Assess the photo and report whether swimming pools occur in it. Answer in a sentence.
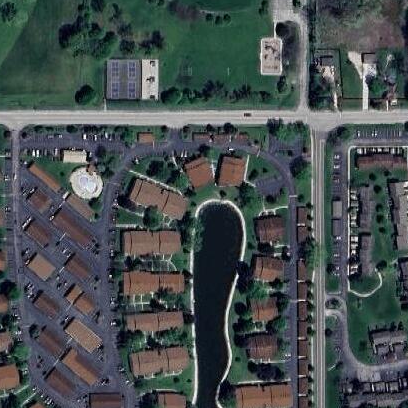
Yes, the picture does show a swimming pool.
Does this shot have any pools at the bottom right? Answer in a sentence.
No, there's no pool to be seen at the bottom right.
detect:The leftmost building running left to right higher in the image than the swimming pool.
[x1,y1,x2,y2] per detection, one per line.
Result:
[61,149,87,162]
